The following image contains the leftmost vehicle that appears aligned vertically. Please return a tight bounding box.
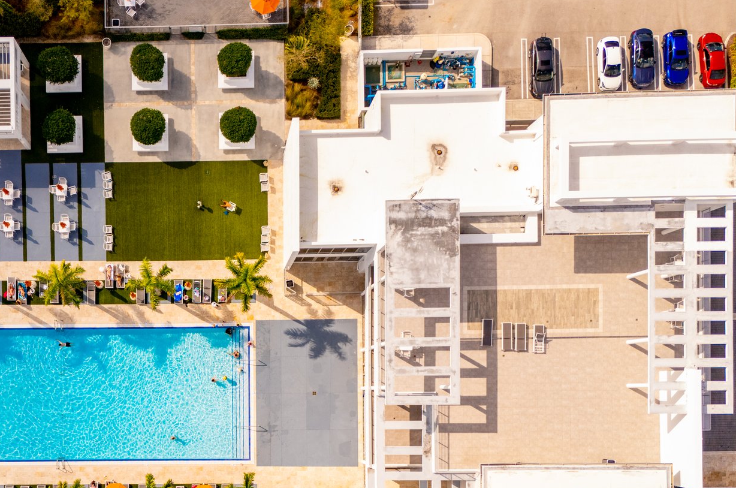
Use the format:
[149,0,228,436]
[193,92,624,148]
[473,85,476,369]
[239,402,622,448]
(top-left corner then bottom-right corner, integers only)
[529,31,558,98]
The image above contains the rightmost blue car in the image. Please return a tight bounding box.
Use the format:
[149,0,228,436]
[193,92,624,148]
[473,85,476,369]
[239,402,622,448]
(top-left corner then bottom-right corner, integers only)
[661,29,692,88]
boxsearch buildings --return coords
[0,36,31,148]
[285,88,736,488]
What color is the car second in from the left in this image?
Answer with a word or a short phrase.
white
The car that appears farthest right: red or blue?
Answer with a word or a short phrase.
red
